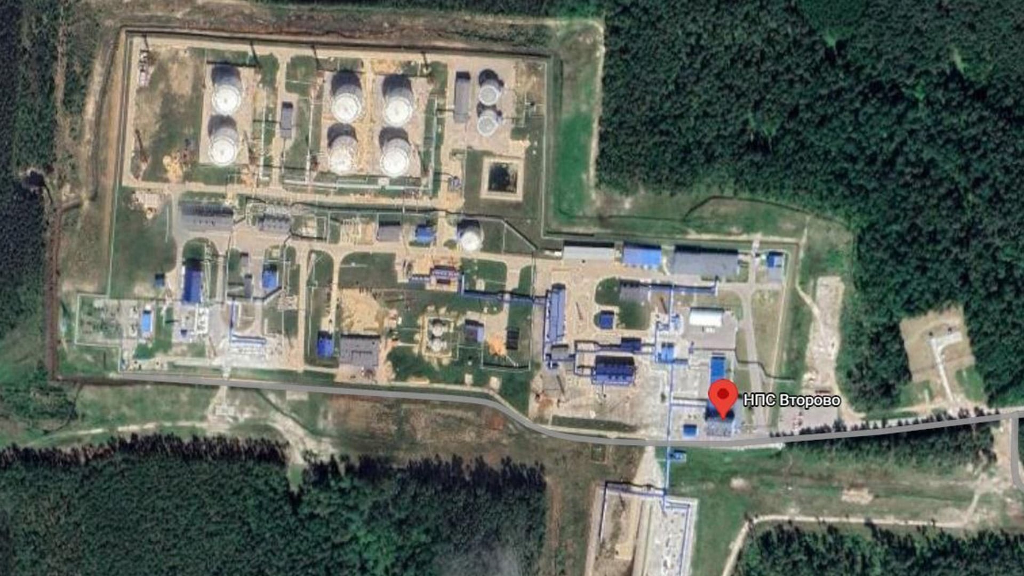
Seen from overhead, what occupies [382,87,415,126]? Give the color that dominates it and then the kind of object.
white storage tank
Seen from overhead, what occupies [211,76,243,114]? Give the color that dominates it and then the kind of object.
white storage tank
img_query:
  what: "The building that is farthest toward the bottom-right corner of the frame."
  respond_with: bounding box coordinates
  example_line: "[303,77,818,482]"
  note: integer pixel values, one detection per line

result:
[706,413,734,437]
